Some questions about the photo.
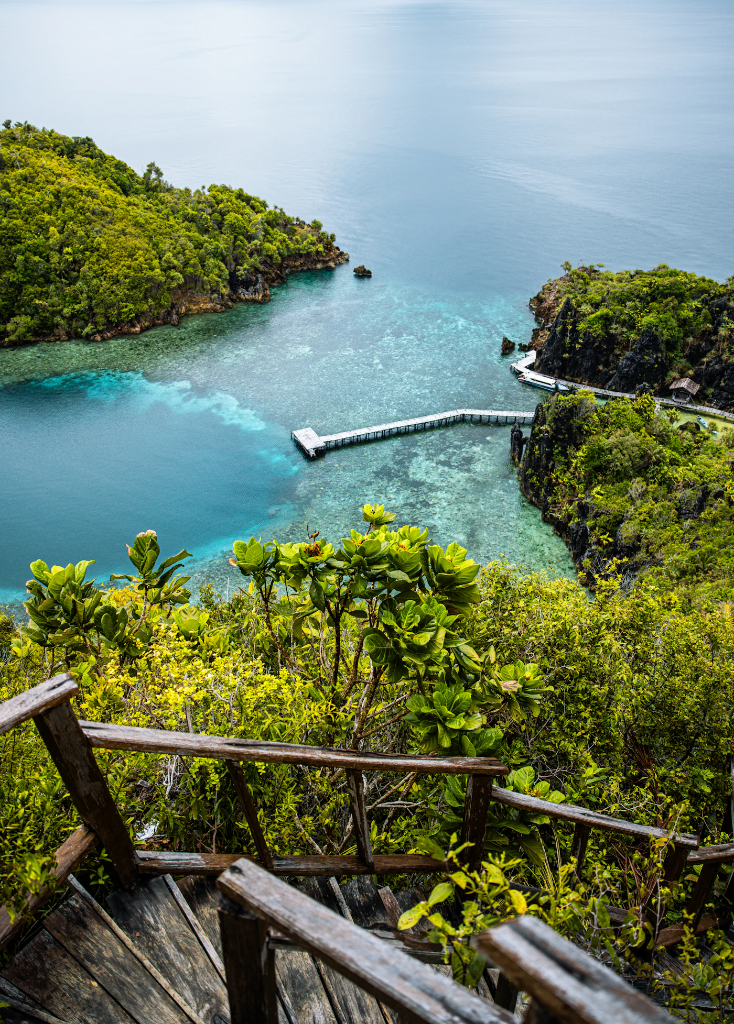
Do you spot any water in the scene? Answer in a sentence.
Yes, some water is visible.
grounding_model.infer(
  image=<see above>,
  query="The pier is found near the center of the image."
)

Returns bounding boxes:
[292,410,537,458]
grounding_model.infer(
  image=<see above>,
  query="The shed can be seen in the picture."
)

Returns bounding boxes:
[667,378,700,408]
